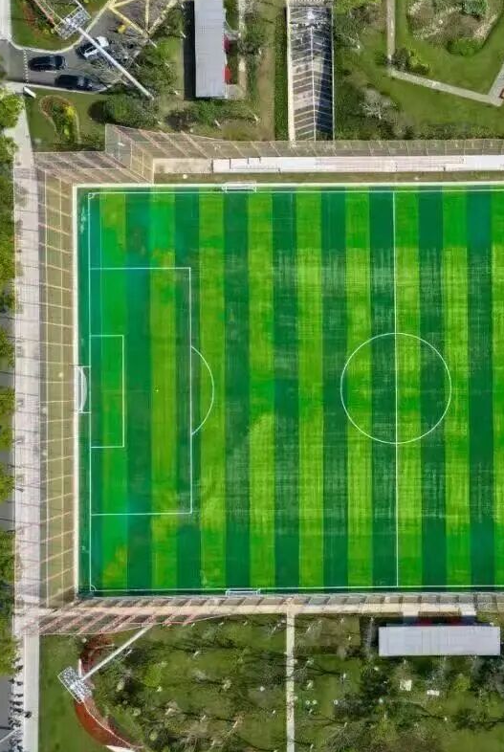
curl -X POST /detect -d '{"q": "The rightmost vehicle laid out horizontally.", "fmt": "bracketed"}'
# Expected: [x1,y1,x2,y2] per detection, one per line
[54,71,92,90]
